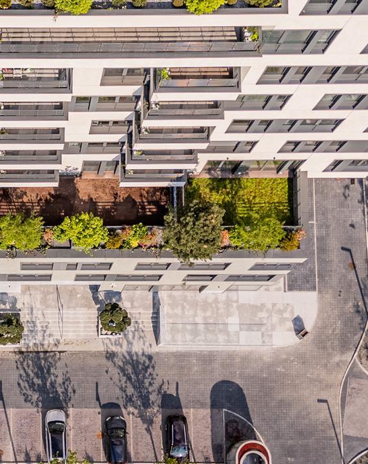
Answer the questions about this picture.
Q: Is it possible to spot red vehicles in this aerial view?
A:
No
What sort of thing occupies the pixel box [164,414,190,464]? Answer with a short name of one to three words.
car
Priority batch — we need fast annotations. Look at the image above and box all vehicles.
[43,411,68,463]
[104,416,128,464]
[164,414,190,464]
